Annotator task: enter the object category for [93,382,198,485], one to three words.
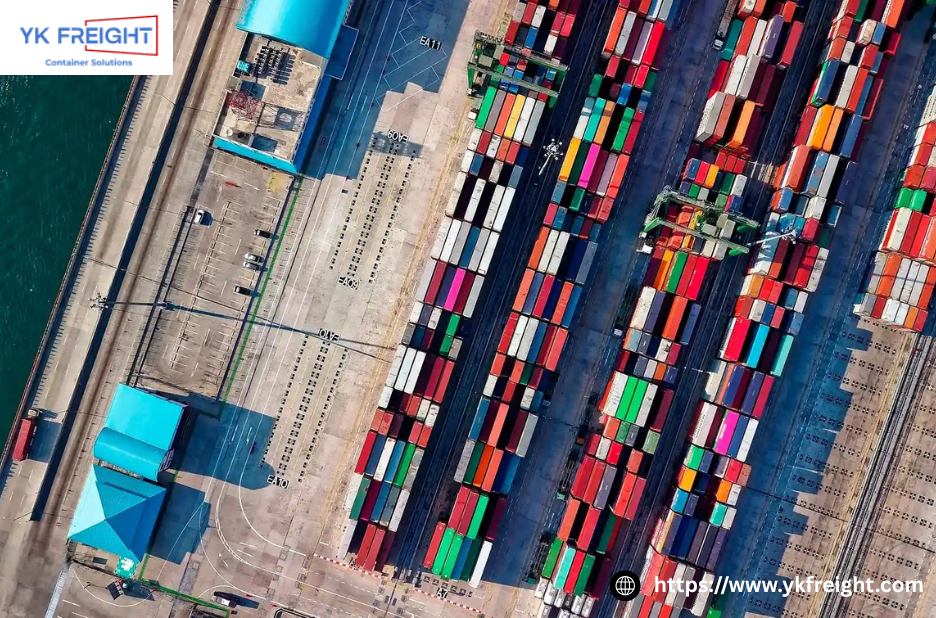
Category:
building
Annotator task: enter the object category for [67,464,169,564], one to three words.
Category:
building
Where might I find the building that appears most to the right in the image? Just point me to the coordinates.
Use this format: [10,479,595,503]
[211,0,363,176]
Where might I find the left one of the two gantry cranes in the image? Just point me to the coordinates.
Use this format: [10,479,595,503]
[464,34,574,129]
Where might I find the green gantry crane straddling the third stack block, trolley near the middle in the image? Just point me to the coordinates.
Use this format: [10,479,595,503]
[636,186,766,266]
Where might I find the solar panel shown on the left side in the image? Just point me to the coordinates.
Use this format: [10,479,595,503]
[109,581,130,600]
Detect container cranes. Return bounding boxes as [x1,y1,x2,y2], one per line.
[636,186,766,266]
[464,34,574,129]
